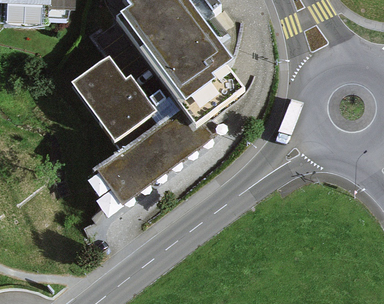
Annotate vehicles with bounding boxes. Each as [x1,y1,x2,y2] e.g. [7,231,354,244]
[92,236,113,254]
[135,70,154,87]
[274,99,303,146]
